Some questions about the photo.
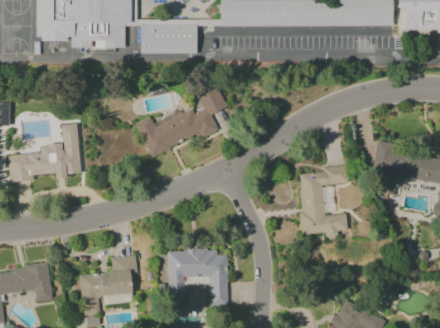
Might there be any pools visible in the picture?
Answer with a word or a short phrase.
Yes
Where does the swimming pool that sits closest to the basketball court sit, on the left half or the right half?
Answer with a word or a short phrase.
left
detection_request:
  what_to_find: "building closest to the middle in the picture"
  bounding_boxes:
[135,90,228,157]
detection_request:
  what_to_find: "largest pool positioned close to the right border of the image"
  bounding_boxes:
[404,196,428,212]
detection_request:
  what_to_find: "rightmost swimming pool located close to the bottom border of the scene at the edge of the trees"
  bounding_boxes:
[176,316,202,328]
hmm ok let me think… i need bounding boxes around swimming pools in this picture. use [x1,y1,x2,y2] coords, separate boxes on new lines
[10,302,38,328]
[104,312,132,325]
[144,93,172,112]
[22,120,51,140]
[404,196,428,212]
[176,316,202,328]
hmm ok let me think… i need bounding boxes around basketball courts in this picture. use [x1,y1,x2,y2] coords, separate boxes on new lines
[0,0,36,56]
